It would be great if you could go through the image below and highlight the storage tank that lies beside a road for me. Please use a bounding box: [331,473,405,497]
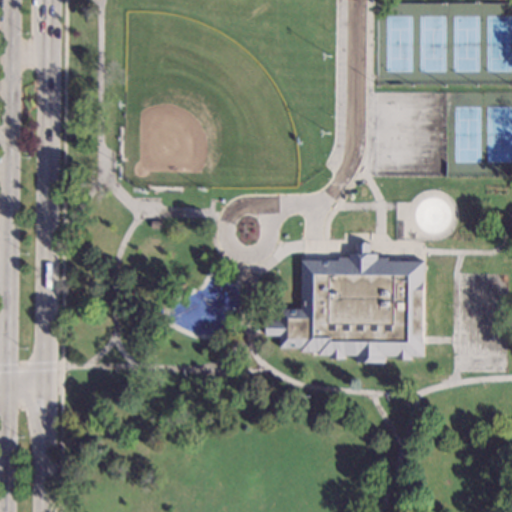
[413,190,459,241]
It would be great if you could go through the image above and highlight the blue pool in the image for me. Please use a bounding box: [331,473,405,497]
[162,272,242,340]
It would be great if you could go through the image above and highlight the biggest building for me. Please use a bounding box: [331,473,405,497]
[266,242,424,365]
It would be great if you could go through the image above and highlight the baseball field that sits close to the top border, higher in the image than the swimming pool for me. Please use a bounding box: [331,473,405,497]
[126,11,299,188]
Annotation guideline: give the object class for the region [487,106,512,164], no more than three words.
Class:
tennis court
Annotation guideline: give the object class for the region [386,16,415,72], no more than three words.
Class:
tennis court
